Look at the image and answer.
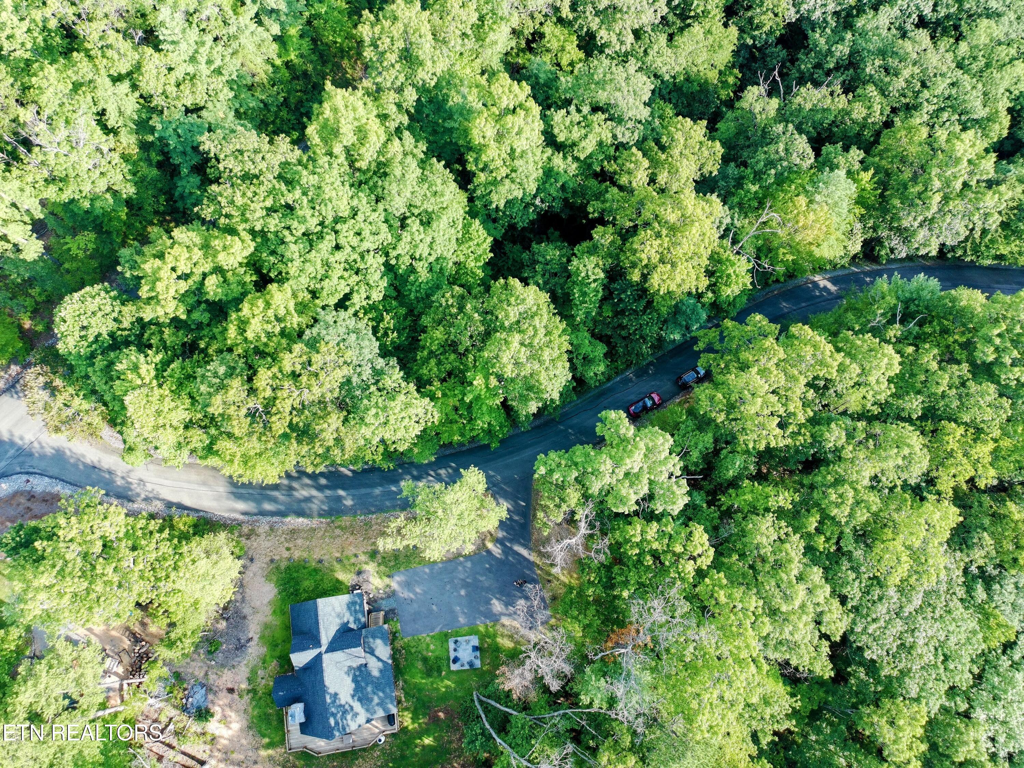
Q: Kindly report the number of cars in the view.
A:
2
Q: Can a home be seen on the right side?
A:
No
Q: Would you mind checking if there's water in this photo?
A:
No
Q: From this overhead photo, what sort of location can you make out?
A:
forest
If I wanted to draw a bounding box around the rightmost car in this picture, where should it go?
[673,365,710,390]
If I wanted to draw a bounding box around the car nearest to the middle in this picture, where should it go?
[627,391,663,417]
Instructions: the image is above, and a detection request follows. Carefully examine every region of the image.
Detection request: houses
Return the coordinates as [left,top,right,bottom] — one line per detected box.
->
[272,591,400,756]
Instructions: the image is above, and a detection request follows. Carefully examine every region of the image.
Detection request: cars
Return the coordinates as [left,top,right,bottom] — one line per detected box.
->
[673,365,710,390]
[627,391,663,417]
